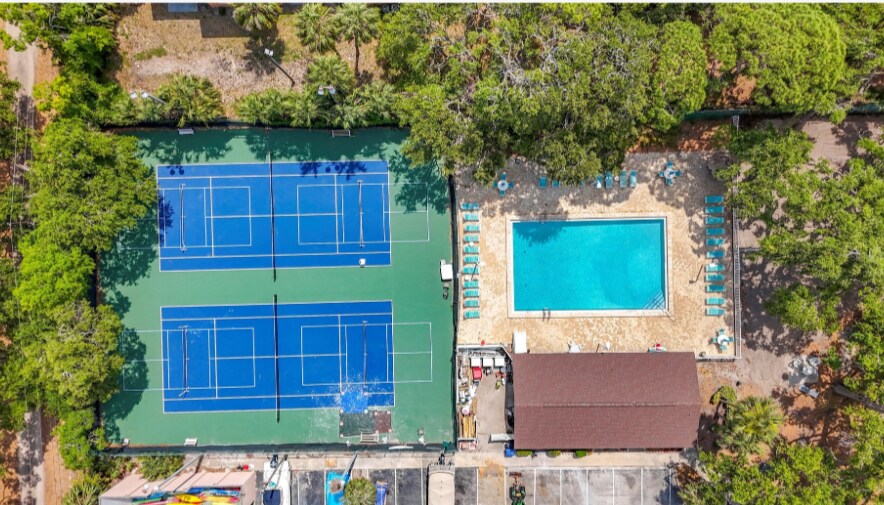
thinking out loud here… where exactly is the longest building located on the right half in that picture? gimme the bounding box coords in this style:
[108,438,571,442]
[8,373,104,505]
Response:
[513,351,704,451]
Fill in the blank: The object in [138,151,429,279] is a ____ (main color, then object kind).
blue tennis court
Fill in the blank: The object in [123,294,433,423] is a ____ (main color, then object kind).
blue tennis court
